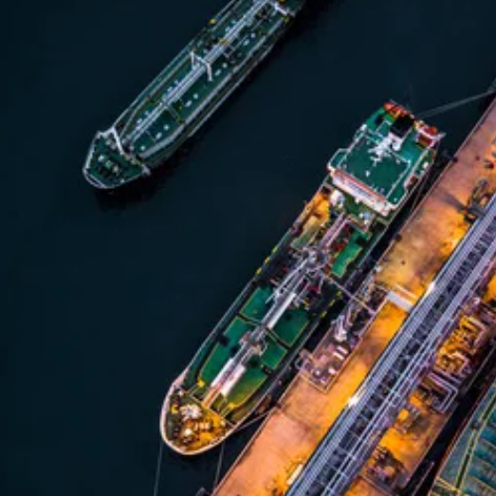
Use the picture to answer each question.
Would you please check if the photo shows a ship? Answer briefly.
Yes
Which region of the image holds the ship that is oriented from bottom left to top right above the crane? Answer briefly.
top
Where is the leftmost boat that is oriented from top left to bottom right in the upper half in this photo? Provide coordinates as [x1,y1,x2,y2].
[388,98,404,112]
